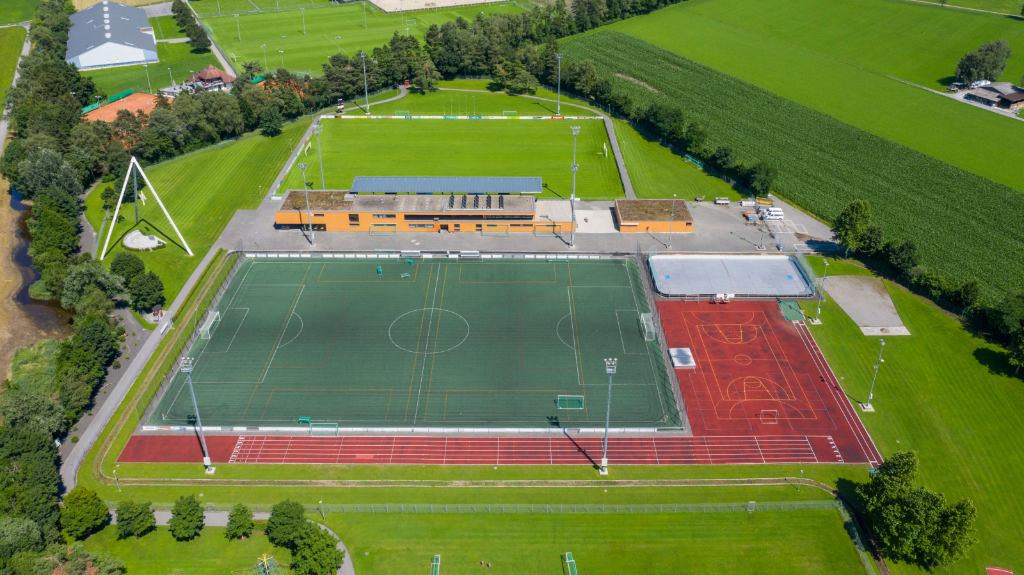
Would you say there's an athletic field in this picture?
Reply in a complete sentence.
Yes, this view includes an athletic field.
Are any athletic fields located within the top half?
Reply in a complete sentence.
Yes, an athletic field shows up within the top half.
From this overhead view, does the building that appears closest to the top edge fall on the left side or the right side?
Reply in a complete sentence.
You can find the building that appears closest to the top edge on the left side of the picture.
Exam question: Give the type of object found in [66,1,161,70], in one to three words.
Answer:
building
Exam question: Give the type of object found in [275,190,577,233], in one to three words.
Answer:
building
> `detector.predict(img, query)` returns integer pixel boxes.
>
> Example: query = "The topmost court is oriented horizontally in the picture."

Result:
[649,253,816,297]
